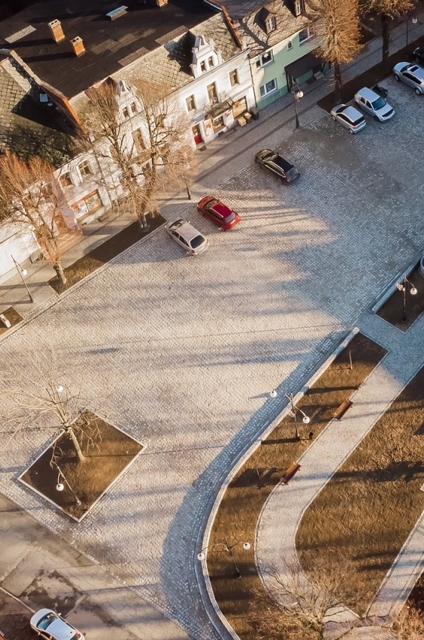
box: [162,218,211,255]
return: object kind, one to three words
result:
car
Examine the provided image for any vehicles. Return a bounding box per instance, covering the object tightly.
[393,61,424,94]
[330,104,367,132]
[27,613,83,640]
[377,86,389,102]
[194,196,243,230]
[353,83,393,119]
[162,218,211,255]
[252,150,301,185]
